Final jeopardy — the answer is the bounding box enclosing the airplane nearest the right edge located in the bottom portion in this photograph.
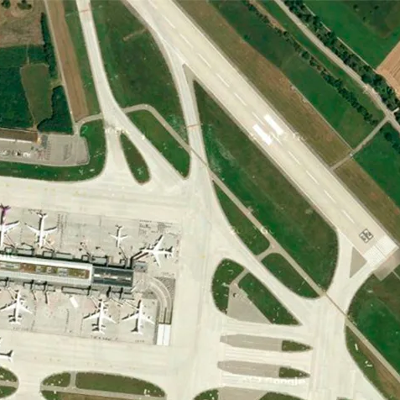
[142,237,173,267]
